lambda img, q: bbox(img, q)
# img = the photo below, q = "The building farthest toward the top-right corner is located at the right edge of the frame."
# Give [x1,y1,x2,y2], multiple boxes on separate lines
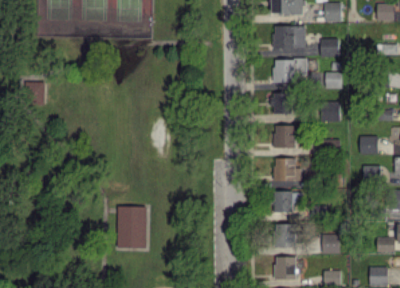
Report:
[378,3,396,22]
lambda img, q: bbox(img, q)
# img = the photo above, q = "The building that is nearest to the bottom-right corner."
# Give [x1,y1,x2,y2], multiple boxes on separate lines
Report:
[370,267,388,287]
